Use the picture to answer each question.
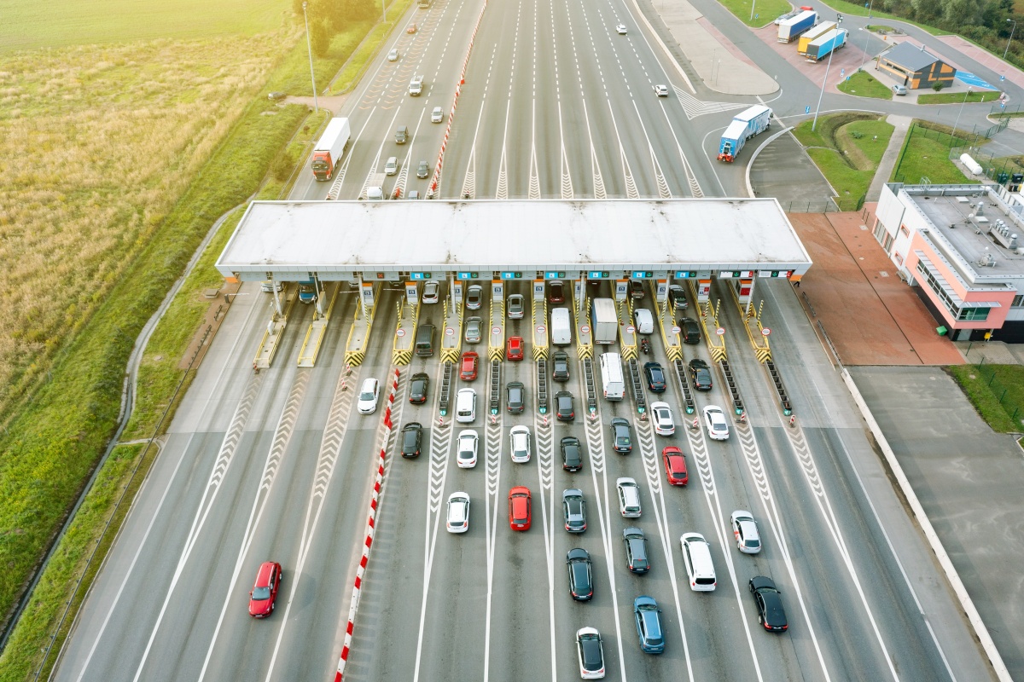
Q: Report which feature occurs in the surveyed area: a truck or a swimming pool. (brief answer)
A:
truck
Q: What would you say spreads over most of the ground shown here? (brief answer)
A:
paved ground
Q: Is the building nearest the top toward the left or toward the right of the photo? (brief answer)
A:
right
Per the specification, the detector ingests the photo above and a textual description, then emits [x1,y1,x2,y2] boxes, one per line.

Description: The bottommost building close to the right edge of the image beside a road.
[871,174,1024,339]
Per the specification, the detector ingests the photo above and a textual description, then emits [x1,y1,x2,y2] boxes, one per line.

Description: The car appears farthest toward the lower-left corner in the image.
[249,563,283,619]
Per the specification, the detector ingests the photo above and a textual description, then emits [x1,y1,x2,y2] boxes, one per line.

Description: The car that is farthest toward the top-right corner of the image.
[893,82,909,94]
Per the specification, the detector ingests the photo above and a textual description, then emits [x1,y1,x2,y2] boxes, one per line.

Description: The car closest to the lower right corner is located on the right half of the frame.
[754,579,785,633]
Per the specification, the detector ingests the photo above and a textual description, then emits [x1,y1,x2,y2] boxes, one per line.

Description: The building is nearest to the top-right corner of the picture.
[873,41,959,88]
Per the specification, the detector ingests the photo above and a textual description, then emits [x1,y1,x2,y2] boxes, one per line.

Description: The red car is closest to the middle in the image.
[506,335,525,361]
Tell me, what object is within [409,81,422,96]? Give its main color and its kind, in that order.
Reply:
white vehicle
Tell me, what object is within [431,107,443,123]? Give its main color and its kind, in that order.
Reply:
white vehicle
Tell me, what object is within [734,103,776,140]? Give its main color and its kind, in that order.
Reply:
white truck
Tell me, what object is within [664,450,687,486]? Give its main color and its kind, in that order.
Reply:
red car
